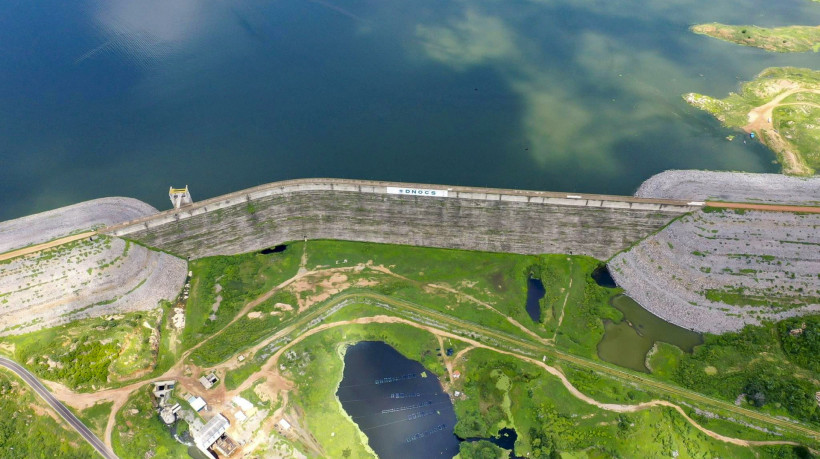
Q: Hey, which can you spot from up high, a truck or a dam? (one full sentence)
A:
The image shows a dam.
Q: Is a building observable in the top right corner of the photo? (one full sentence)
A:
No, there is no building in the top right corner of the photo.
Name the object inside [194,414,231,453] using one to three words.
building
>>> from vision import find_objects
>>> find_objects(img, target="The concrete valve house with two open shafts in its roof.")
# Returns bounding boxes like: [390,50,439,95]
[154,380,176,405]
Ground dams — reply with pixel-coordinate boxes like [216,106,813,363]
[93,177,703,273]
